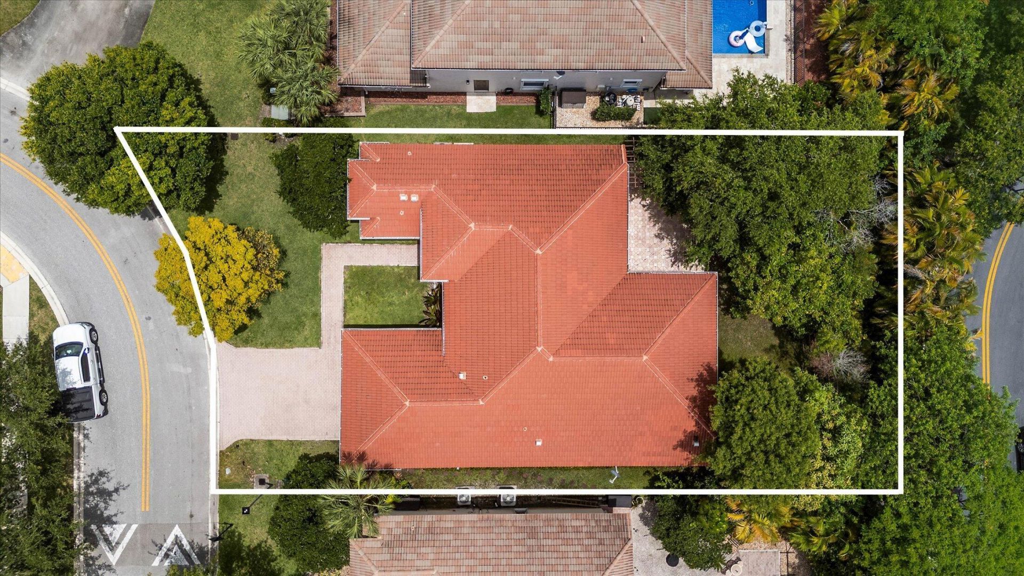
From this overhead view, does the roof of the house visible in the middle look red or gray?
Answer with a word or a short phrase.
red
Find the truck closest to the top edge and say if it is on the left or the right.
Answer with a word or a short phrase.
left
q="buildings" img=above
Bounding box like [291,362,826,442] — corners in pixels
[350,506,633,576]
[339,142,719,470]
[335,0,714,101]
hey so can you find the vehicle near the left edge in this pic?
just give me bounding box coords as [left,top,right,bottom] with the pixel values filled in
[47,317,106,424]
